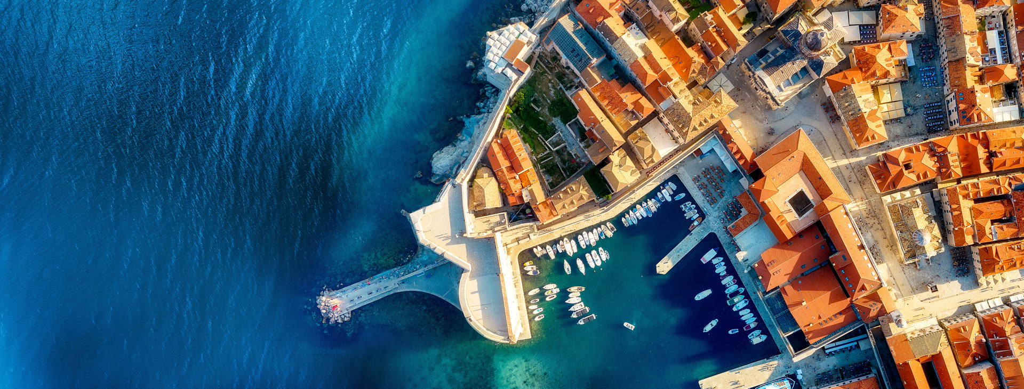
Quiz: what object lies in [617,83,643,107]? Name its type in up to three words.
house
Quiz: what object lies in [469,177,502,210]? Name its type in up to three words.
building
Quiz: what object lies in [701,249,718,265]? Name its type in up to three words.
boat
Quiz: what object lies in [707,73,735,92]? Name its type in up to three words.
umbrella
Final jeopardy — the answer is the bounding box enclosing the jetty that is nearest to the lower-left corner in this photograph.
[330,250,463,315]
